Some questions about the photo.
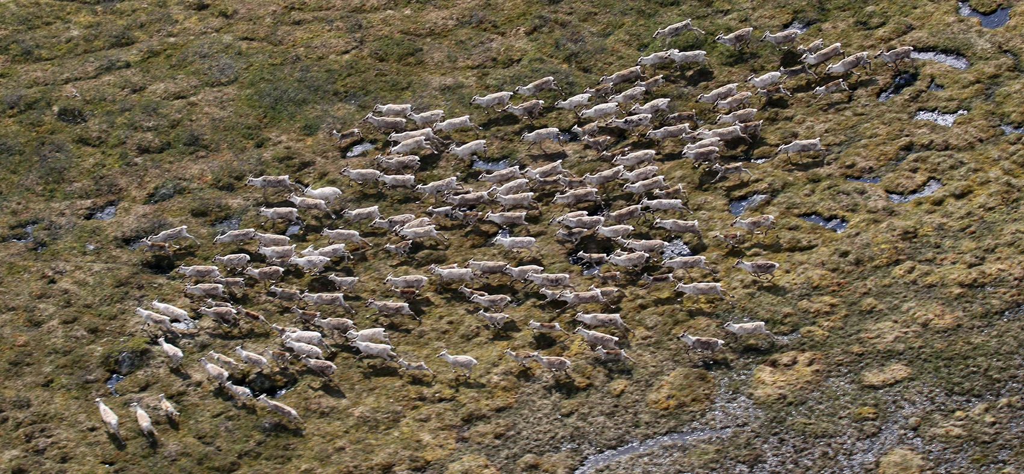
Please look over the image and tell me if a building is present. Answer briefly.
No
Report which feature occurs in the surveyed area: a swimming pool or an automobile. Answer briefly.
swimming pool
